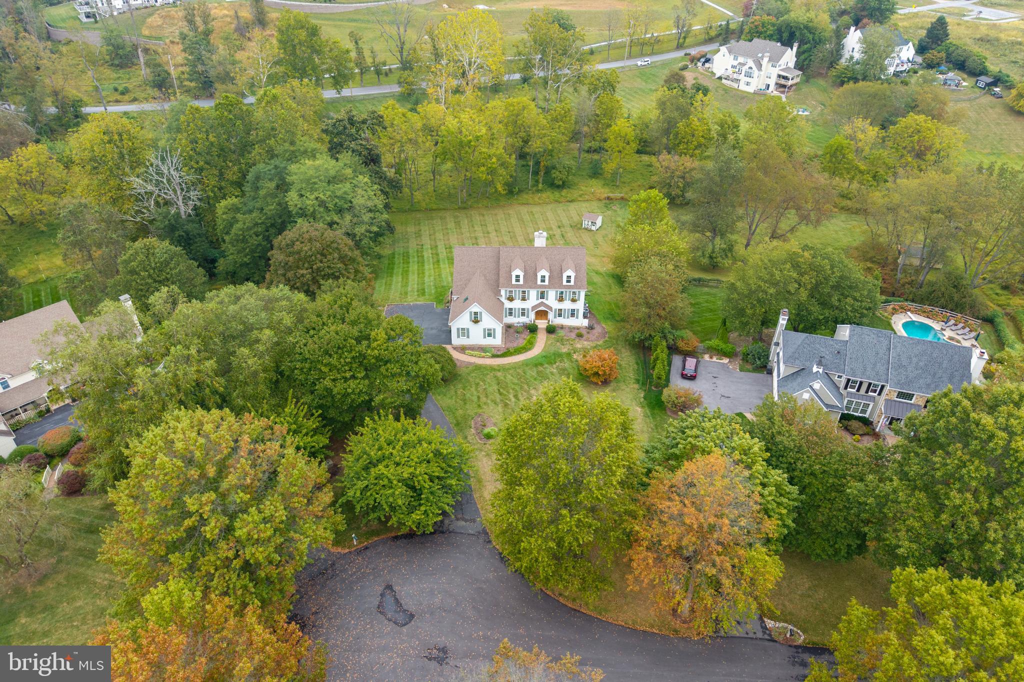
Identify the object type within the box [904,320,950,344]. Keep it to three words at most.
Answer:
swimming pool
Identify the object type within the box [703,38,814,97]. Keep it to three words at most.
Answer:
house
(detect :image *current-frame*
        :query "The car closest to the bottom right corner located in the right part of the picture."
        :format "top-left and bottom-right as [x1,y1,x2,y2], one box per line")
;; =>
[682,353,700,377]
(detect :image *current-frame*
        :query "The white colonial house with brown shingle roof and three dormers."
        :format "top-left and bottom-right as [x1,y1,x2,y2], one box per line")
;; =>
[447,231,587,345]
